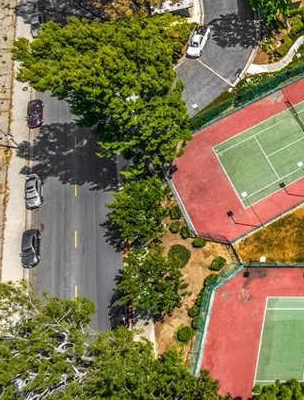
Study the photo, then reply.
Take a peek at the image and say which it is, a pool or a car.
car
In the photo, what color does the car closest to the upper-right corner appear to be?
white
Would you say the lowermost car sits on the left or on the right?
left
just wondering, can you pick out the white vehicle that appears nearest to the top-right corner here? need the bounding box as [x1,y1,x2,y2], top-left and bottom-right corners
[189,30,210,57]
